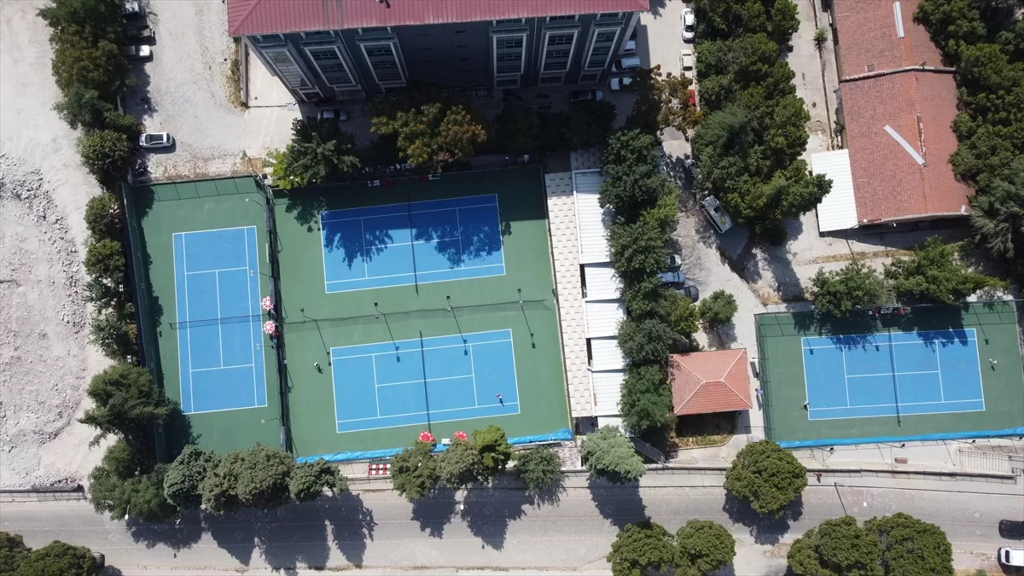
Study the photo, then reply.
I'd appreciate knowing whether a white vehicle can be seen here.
Yes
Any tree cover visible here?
Yes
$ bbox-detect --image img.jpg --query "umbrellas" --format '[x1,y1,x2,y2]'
[262,297,275,309]
[454,429,468,438]
[265,321,278,333]
[419,430,434,445]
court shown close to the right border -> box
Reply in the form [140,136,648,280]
[755,301,1024,443]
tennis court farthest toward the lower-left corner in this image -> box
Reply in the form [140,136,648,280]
[134,177,292,464]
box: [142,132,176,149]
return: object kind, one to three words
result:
car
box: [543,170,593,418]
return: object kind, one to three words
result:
building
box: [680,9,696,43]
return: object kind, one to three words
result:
car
